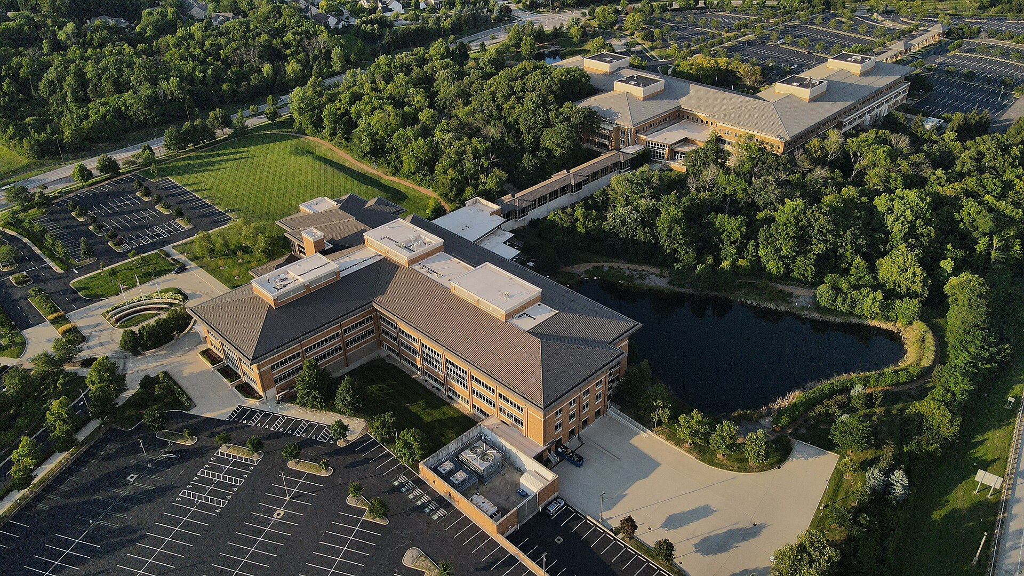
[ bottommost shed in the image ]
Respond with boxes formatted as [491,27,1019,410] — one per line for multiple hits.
[521,473,546,497]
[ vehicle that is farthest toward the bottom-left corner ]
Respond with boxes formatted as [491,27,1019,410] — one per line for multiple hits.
[159,447,183,461]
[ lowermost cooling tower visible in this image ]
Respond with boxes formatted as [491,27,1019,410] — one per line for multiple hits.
[463,439,513,488]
